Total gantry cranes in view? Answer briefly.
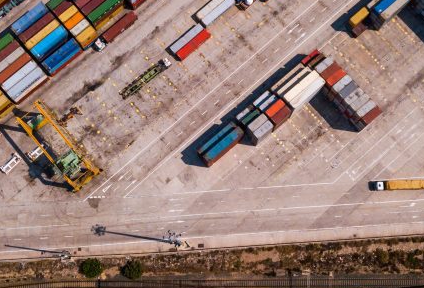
one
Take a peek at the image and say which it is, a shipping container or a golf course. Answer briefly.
shipping container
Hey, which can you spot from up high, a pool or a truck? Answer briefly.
truck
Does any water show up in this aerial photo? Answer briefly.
No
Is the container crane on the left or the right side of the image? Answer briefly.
left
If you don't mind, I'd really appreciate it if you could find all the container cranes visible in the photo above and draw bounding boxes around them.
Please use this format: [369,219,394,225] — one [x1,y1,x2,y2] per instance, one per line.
[15,100,107,195]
